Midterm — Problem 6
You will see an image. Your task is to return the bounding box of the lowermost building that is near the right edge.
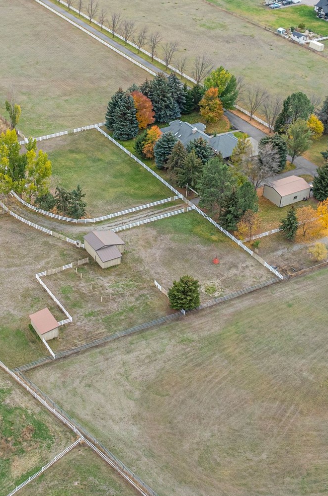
[261,176,313,207]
